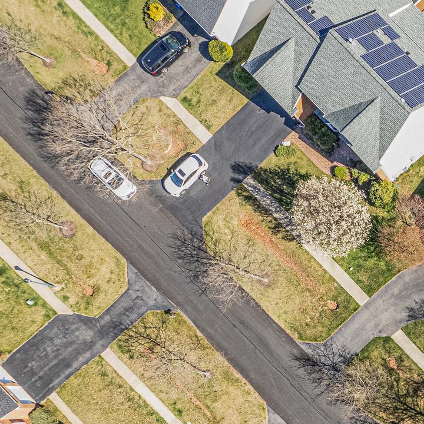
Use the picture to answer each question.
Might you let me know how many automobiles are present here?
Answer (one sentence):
My tally gives 3 automobiles in this view.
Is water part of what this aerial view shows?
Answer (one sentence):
No, there's no water in this view.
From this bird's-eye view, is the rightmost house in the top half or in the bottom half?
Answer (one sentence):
It is in the top half that the rightmost house appears.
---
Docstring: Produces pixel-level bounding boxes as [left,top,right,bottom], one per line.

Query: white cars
[164,152,210,197]
[86,157,139,201]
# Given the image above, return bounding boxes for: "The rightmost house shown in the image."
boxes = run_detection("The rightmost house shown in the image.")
[234,0,424,181]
